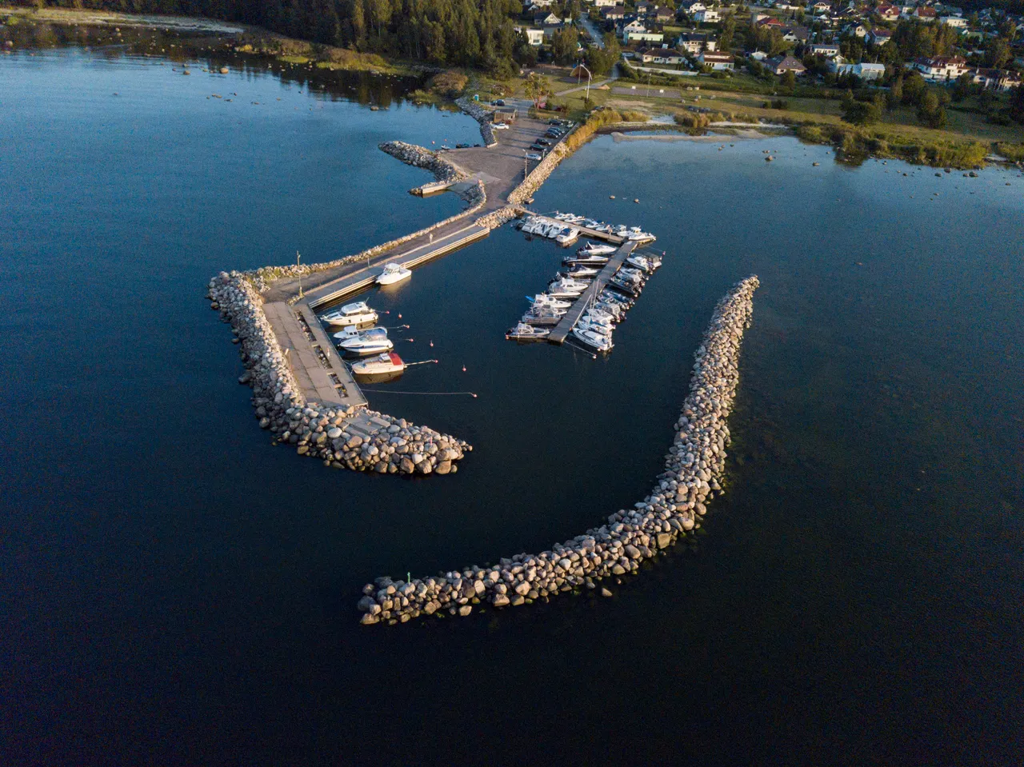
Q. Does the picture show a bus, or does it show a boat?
boat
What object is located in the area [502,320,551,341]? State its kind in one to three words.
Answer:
boat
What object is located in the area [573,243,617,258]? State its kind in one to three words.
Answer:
boat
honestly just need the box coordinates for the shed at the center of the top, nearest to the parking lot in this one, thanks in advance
[491,107,517,123]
